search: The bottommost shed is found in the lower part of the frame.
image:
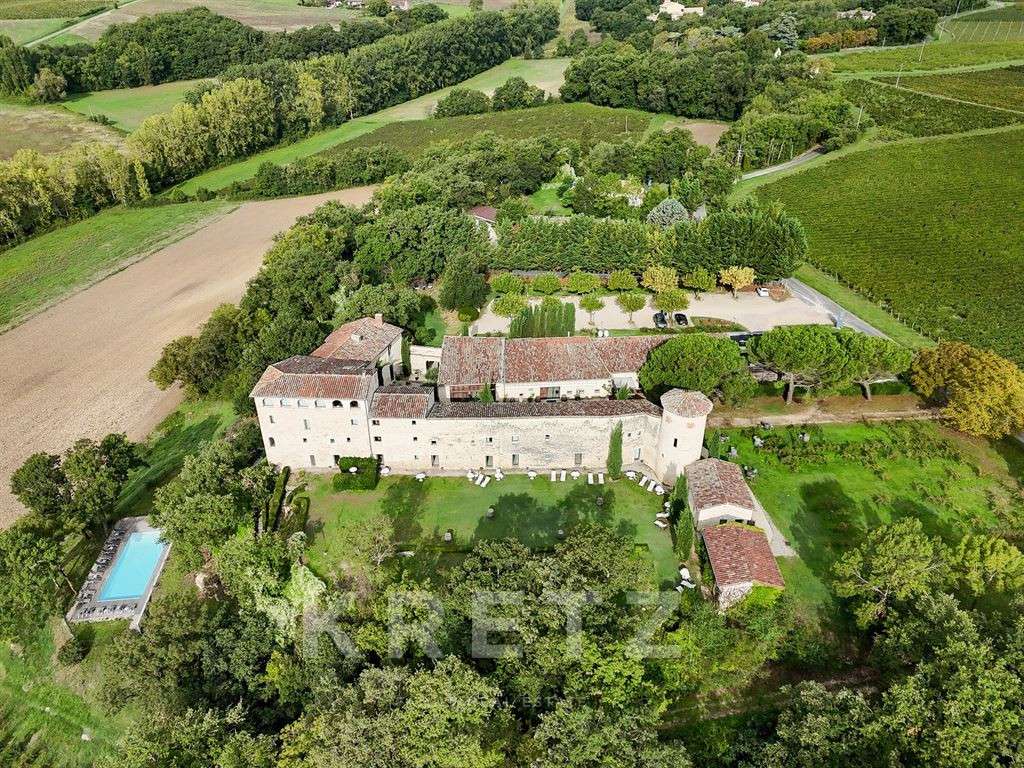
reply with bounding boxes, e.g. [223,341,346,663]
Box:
[701,522,784,602]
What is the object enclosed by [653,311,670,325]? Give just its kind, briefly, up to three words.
car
